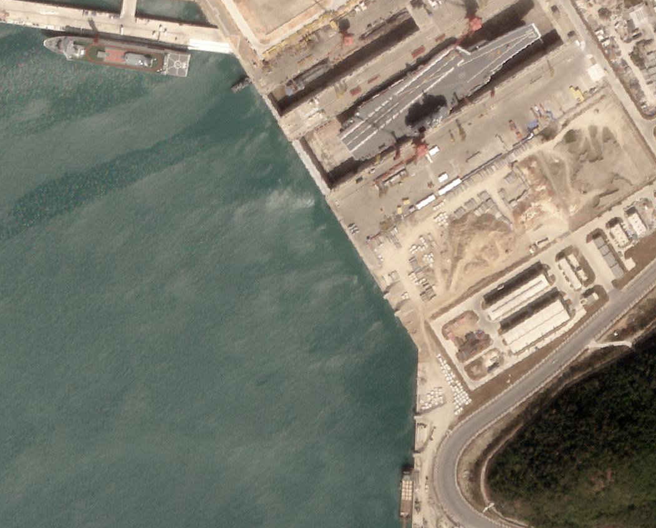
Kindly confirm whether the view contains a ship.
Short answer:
Yes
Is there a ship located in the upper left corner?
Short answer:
Yes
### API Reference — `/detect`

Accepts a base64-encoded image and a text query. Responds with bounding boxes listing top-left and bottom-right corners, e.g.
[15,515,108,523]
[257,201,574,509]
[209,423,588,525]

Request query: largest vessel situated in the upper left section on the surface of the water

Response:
[44,27,190,76]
